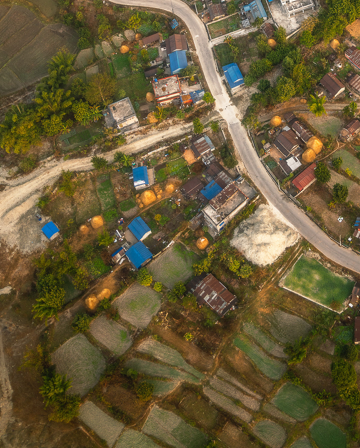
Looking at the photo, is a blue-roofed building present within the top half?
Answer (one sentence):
Yes, I can see a blue-roofed building within the top half.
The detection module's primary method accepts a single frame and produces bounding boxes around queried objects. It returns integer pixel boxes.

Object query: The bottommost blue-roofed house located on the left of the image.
[113,240,153,268]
